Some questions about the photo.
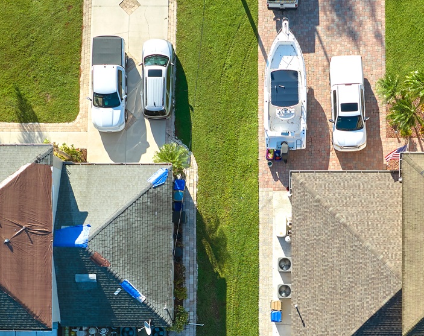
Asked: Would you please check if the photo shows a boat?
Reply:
Yes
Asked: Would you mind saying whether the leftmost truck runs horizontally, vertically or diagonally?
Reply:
vertically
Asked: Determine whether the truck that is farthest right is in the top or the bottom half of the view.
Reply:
top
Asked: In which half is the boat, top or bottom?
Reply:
top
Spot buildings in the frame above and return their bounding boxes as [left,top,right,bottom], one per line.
[0,141,174,332]
[287,150,424,336]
